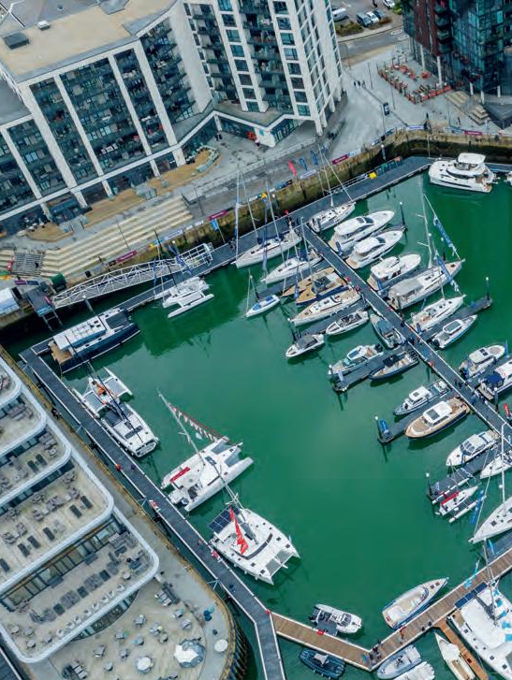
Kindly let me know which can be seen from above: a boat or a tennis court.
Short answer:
boat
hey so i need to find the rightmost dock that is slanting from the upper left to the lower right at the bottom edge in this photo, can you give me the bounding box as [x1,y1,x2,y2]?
[435,618,491,680]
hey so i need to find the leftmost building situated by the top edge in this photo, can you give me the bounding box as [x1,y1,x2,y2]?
[0,0,226,236]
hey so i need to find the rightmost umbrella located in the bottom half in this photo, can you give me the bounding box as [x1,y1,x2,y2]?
[208,633,227,650]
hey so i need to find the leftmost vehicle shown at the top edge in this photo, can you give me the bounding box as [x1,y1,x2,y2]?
[334,7,350,20]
